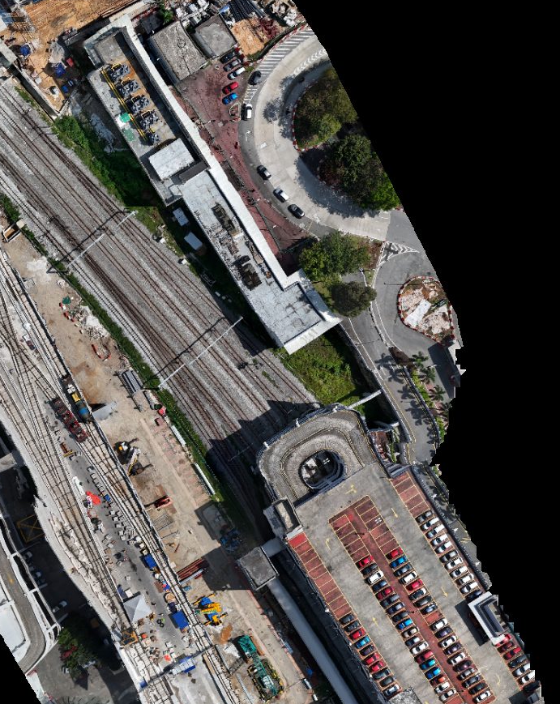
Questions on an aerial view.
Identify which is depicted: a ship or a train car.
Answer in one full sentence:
Looking from above, you can make out a train car.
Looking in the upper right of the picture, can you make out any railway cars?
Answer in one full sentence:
No, in the upper right of the picture there is no railway car.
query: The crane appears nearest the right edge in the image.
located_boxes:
[234,634,282,697]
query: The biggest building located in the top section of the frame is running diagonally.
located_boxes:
[82,17,341,353]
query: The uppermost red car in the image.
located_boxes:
[222,81,238,94]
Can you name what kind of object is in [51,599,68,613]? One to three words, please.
car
